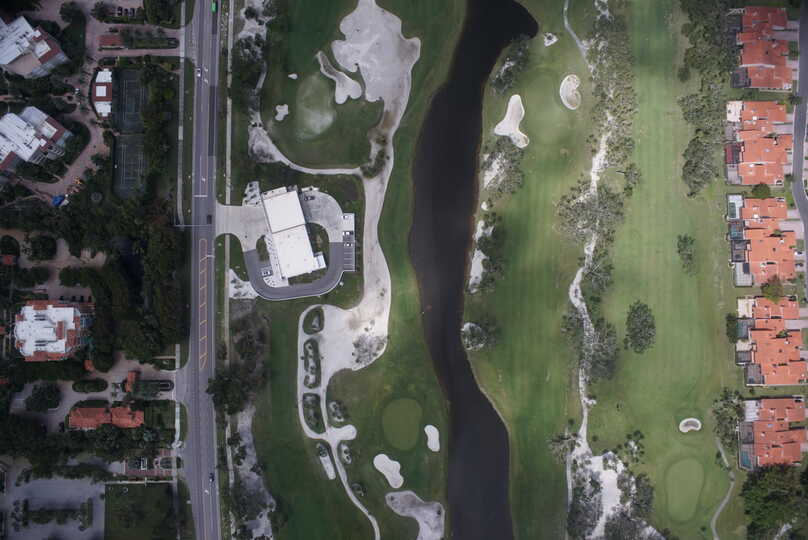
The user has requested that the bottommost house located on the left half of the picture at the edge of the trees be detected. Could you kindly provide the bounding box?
[69,405,145,428]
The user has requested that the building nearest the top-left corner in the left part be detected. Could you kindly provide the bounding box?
[0,15,69,81]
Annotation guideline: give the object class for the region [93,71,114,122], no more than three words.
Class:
building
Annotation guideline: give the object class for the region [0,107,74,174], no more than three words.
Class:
building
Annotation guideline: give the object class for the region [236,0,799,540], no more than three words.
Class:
golf course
